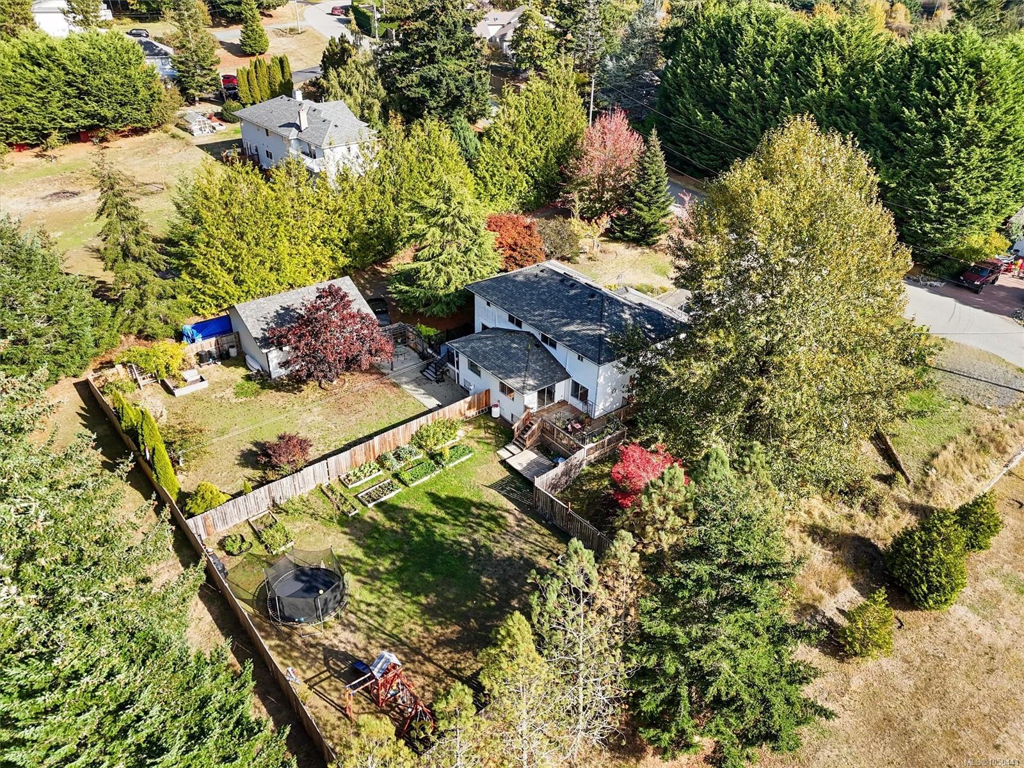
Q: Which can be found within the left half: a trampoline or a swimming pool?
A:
trampoline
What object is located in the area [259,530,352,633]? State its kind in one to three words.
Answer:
trampoline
